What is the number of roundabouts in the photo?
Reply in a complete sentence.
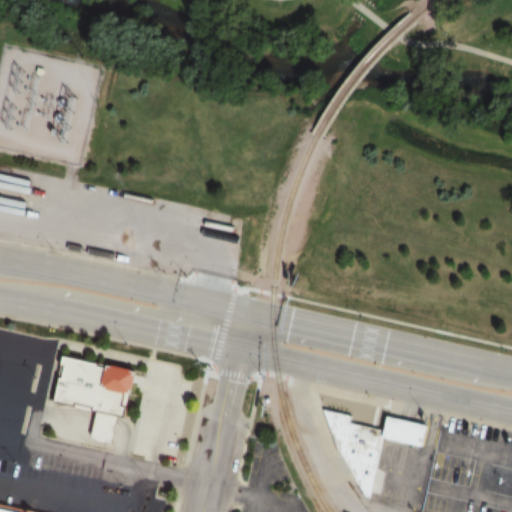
The photo contains no roundabouts.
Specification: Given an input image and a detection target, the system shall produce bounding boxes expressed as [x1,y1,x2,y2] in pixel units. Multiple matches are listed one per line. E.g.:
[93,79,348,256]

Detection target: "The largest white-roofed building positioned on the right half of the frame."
[324,409,384,498]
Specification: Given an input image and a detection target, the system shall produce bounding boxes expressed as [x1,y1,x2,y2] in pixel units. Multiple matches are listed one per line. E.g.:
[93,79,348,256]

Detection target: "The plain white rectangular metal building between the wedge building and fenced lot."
[384,416,428,448]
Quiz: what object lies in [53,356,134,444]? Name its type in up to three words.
building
